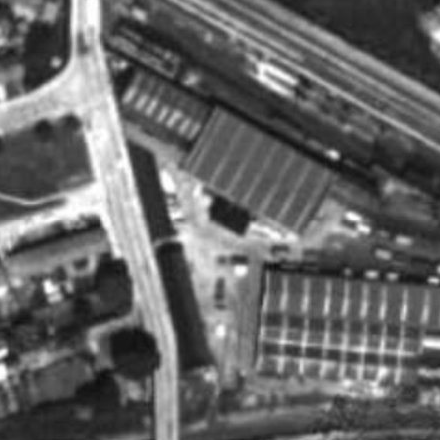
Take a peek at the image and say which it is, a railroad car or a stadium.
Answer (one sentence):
There is a railroad car in the scene.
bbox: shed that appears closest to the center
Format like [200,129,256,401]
[204,191,248,231]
